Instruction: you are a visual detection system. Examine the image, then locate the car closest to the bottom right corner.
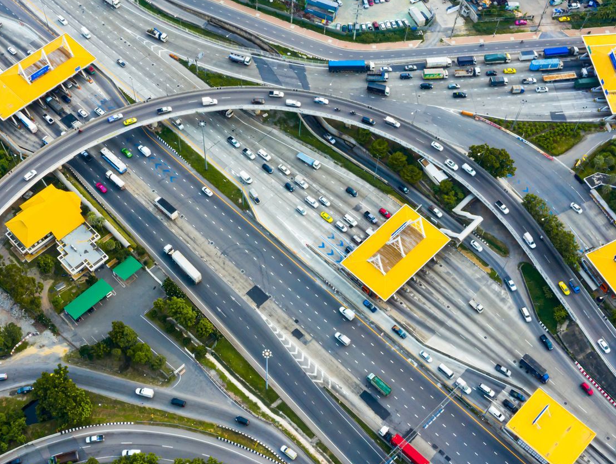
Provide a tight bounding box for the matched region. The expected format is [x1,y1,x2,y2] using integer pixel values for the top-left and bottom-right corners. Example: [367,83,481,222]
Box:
[579,380,594,396]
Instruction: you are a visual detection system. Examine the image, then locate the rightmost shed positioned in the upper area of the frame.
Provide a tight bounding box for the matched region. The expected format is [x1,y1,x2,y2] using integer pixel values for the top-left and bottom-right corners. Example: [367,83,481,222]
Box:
[417,158,447,190]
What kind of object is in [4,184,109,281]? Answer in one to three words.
building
